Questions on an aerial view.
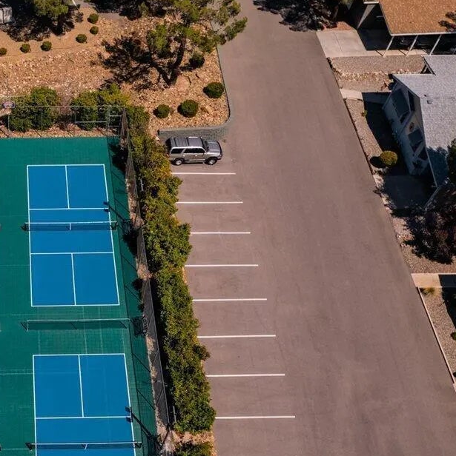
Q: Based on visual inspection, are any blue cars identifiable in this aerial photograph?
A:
No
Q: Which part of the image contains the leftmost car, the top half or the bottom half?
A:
top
